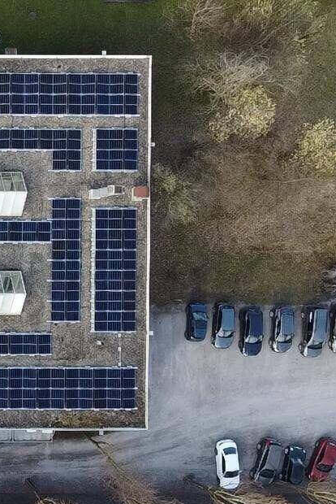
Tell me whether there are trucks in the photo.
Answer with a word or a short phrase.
No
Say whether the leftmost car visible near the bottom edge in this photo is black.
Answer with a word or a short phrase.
No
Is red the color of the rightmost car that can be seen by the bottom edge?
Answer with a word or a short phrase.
Yes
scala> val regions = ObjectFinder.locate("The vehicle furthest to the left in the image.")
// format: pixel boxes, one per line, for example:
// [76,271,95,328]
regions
[185,303,209,340]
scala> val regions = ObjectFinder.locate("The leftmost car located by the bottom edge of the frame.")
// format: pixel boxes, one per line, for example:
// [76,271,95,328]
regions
[212,439,241,487]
